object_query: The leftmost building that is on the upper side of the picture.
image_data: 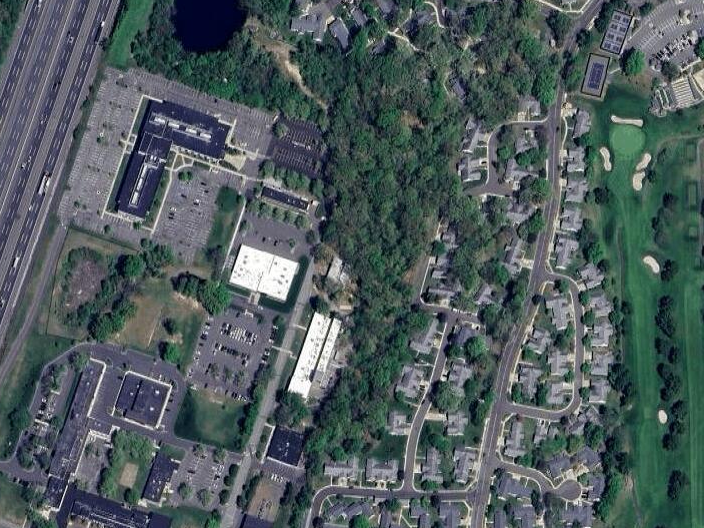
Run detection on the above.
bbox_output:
[117,98,231,223]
